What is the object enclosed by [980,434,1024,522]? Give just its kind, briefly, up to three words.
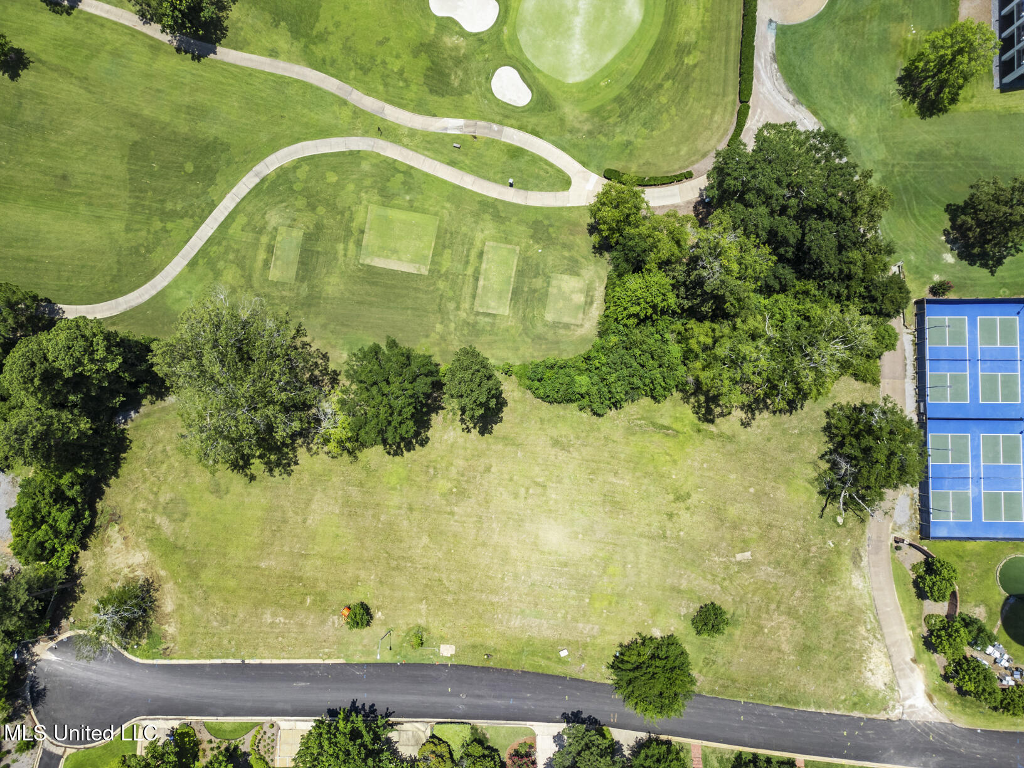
sports court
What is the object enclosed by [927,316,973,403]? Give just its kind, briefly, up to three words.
sports court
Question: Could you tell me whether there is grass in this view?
Yes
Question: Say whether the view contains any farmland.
No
